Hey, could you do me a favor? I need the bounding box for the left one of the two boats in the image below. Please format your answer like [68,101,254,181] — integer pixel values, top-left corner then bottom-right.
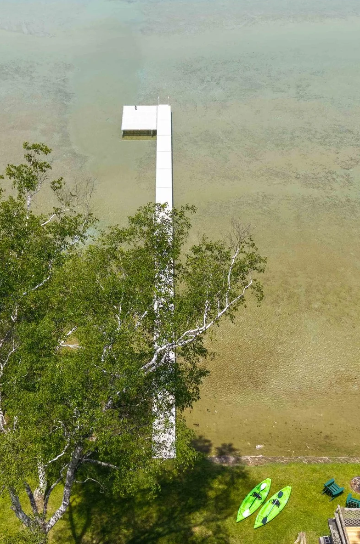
[237,478,270,523]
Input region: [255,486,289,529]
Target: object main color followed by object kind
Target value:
green boat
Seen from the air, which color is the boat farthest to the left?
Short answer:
green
